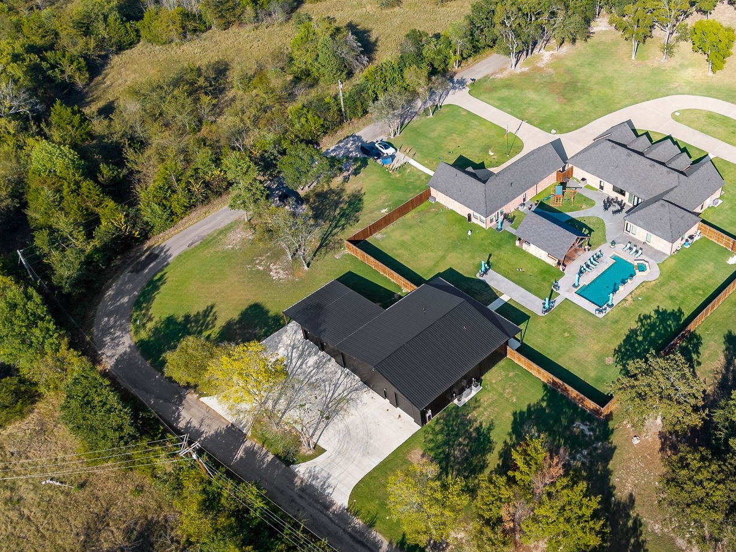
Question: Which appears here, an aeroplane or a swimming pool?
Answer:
swimming pool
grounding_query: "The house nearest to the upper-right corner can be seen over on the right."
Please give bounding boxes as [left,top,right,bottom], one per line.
[567,123,728,255]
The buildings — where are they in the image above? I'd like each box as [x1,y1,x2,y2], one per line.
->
[282,278,526,428]
[427,143,566,230]
[515,211,591,270]
[567,123,728,255]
